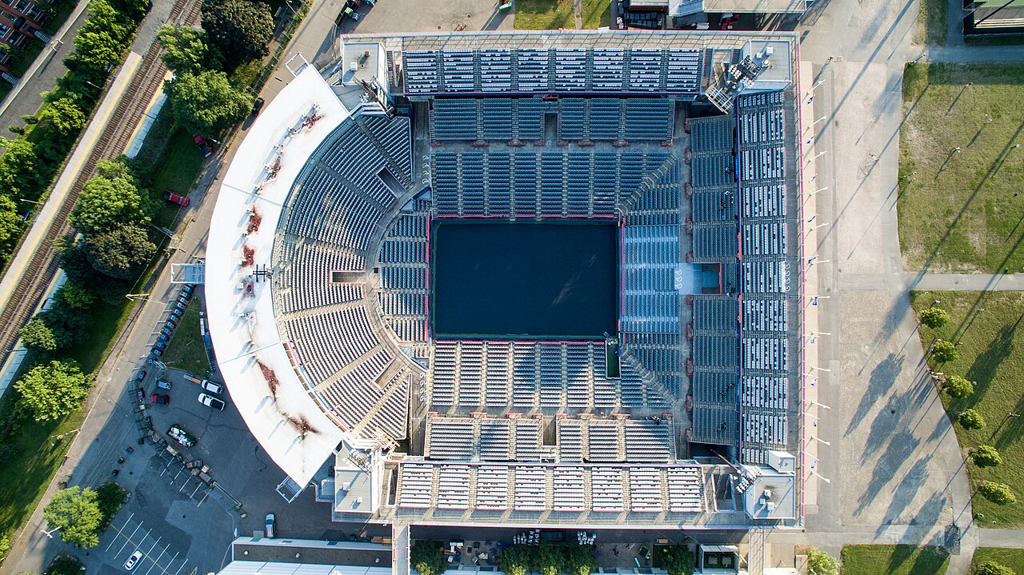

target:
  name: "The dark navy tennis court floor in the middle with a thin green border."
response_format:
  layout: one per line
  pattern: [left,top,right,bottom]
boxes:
[429,218,621,340]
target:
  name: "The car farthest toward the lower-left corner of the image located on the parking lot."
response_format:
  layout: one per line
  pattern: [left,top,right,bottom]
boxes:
[123,549,144,572]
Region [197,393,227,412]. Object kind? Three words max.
vehicle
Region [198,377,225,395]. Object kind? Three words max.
vehicle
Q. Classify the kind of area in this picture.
sports ground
